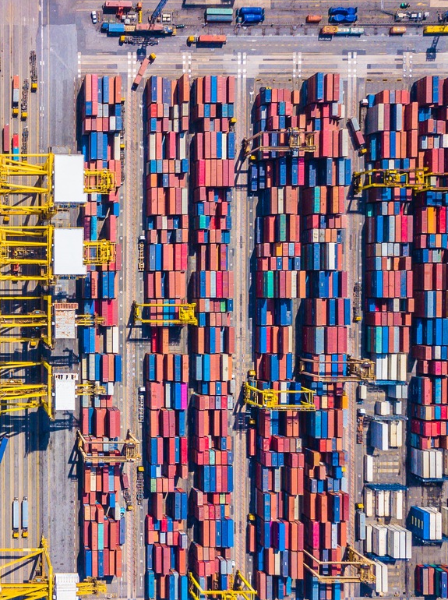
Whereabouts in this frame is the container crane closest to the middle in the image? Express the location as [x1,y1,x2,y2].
[134,301,198,327]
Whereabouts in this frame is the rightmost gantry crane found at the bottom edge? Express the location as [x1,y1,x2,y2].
[301,543,374,581]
